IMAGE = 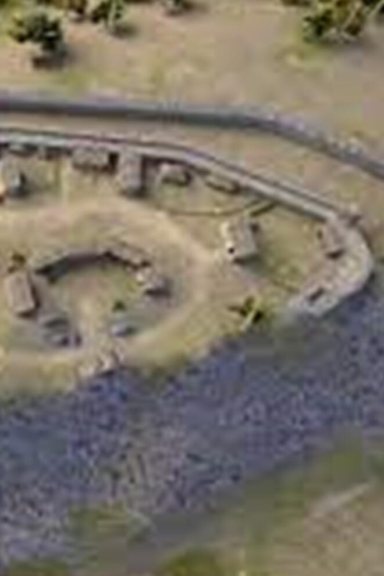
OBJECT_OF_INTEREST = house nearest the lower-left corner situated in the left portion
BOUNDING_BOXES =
[0,273,44,326]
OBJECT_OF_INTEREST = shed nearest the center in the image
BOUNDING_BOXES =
[138,272,172,302]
